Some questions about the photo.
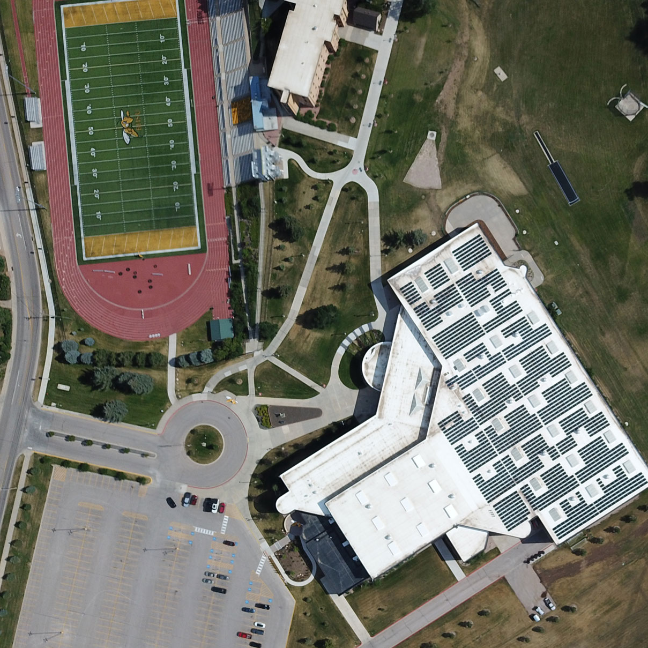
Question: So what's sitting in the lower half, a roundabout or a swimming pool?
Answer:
roundabout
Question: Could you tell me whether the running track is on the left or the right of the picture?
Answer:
left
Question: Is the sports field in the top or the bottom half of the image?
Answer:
top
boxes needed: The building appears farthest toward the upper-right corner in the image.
[353,6,382,35]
